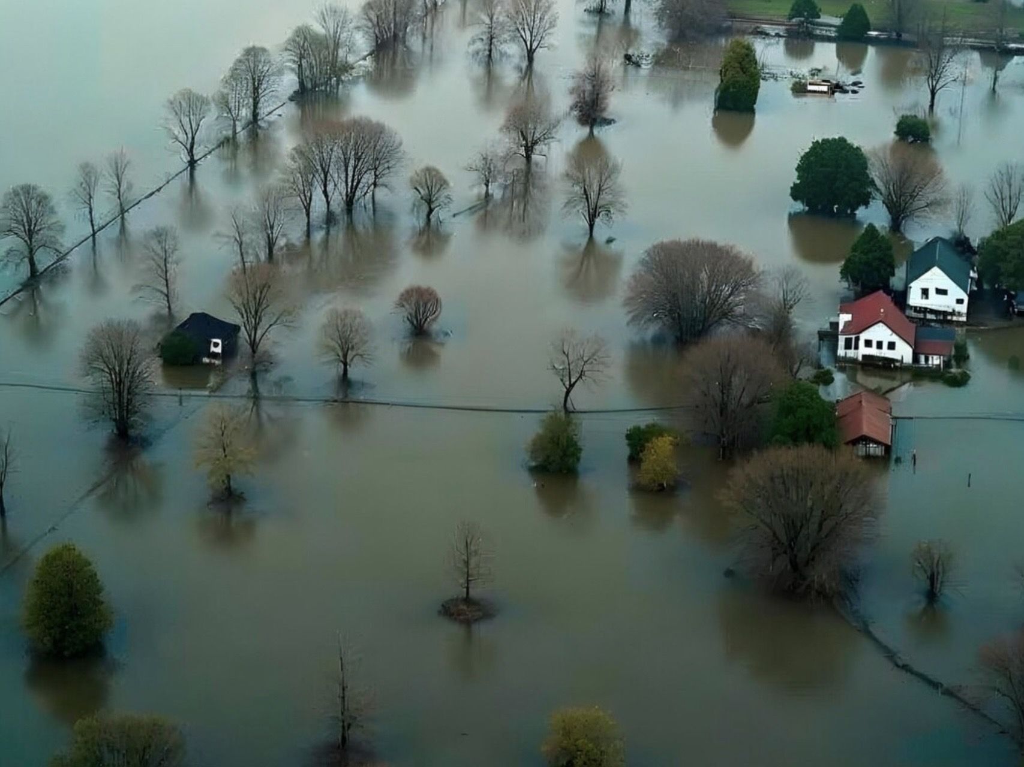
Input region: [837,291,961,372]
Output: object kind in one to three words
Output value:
house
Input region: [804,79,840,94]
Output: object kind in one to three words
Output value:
shed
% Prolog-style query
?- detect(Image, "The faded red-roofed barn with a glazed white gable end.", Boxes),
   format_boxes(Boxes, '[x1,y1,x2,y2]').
[839,387,898,461]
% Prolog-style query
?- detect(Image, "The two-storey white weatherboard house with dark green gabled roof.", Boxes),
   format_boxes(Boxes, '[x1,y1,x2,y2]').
[906,235,978,325]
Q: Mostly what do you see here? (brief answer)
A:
water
